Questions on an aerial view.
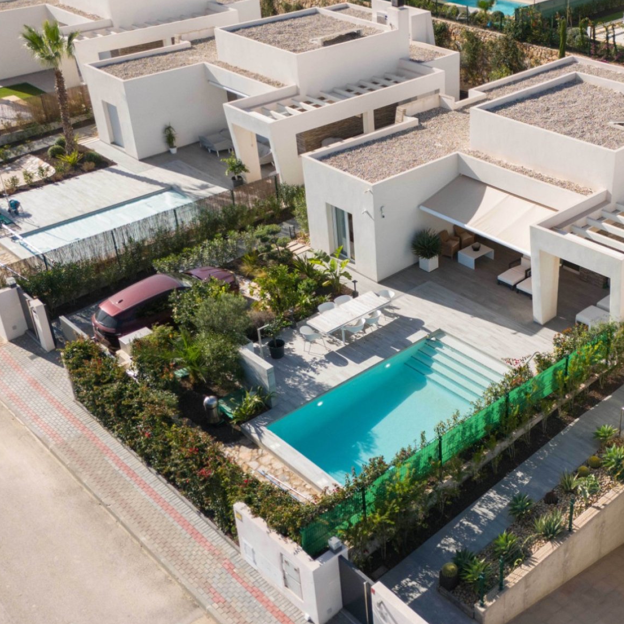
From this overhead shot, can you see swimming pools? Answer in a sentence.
Yes, there's a swimming pool here.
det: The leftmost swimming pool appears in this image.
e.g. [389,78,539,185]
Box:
[12,189,208,263]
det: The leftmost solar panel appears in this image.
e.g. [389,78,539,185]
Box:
[310,29,363,46]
